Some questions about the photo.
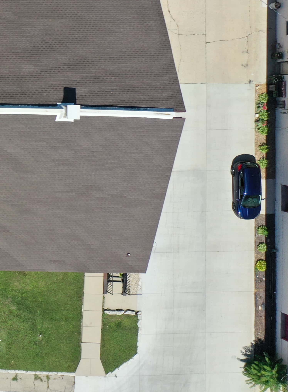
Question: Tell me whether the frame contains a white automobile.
No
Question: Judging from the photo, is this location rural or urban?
urban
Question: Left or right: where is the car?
right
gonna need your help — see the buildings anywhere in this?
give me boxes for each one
[278,0,288,392]
[0,0,186,273]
